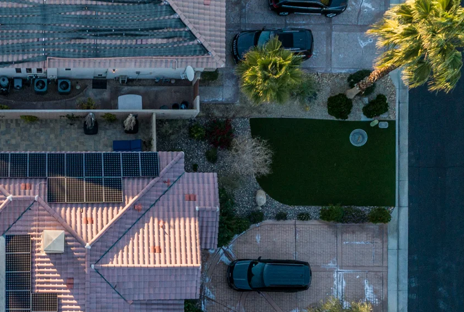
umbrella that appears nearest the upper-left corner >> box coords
[83,113,98,135]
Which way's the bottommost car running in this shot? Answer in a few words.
horizontally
